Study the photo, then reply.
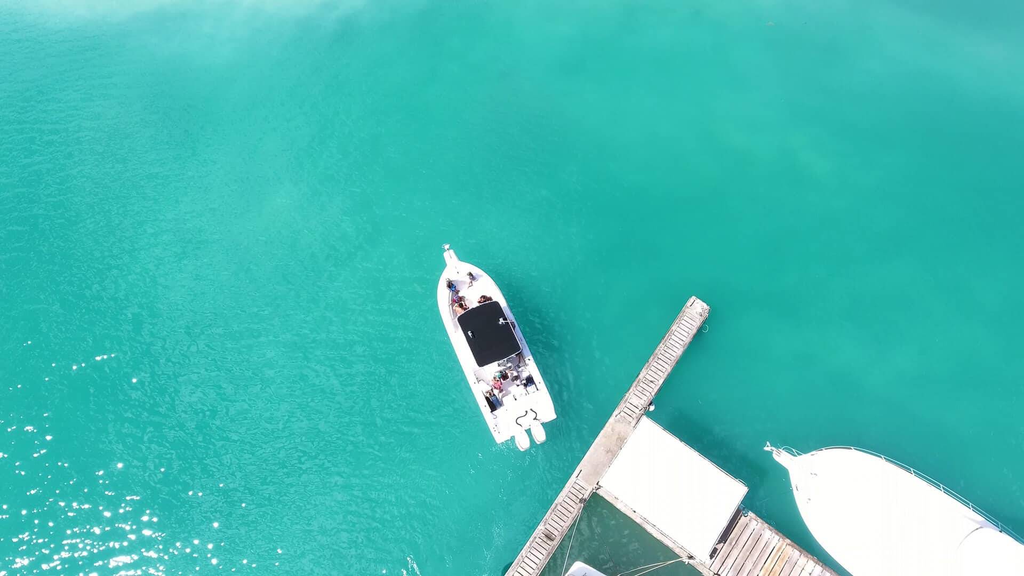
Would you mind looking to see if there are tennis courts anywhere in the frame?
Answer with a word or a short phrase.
No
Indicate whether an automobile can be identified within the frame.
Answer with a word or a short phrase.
No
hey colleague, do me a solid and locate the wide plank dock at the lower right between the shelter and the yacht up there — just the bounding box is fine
[707,507,844,576]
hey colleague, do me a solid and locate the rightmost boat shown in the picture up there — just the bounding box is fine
[765,441,1024,576]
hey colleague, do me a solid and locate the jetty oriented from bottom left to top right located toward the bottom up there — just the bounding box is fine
[505,297,709,576]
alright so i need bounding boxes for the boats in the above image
[436,244,556,451]
[561,560,595,576]
[765,441,1024,576]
